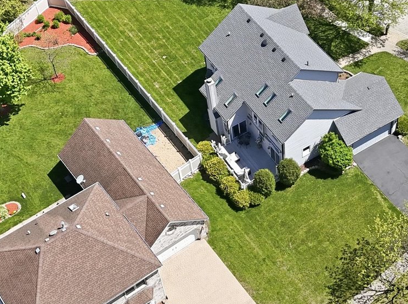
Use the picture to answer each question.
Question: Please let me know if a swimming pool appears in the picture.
No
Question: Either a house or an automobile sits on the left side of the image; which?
house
